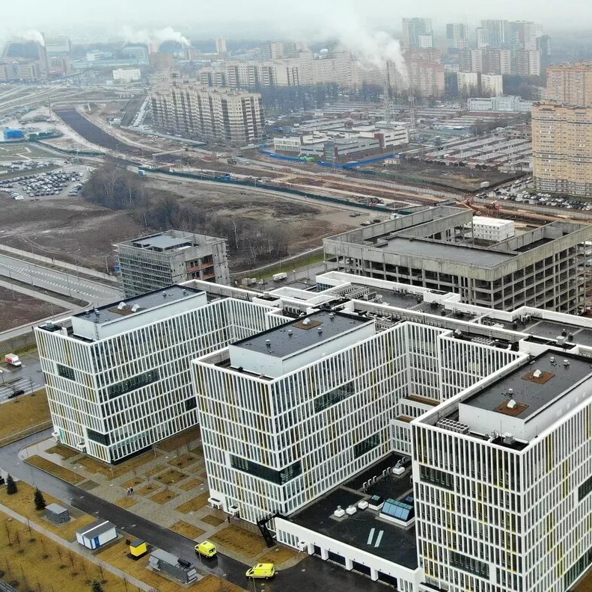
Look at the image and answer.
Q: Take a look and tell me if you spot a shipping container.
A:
Yes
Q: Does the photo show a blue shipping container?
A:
No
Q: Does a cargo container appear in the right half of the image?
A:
No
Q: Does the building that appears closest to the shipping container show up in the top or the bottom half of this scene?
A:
bottom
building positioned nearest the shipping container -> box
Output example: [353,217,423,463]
[126,534,152,556]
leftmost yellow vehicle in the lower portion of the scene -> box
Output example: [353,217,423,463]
[194,538,221,559]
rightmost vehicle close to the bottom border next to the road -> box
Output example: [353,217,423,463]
[245,559,277,578]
